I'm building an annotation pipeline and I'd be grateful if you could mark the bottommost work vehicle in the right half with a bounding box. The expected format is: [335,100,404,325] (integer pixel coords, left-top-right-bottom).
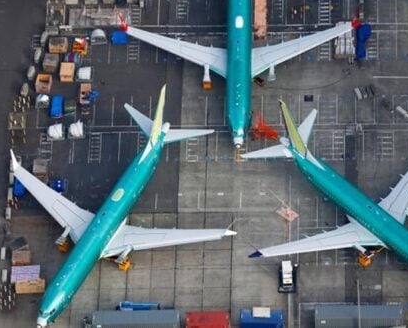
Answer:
[278,263,297,295]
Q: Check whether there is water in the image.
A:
No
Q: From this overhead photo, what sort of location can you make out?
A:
airport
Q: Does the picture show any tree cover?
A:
No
